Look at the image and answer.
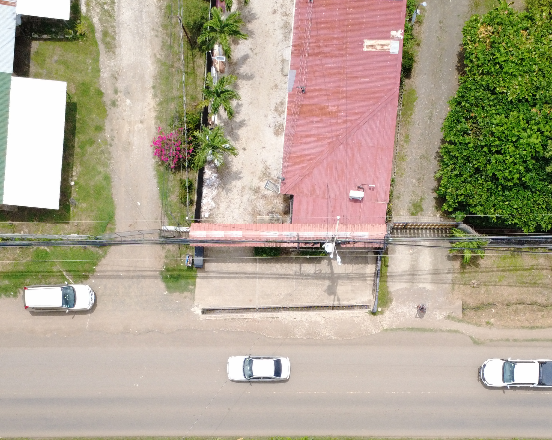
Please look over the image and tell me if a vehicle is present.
Yes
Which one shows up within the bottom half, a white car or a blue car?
white car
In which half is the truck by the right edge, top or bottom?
bottom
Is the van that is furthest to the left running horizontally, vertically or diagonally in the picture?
horizontally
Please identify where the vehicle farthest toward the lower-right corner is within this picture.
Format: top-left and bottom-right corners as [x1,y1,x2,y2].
[478,356,552,391]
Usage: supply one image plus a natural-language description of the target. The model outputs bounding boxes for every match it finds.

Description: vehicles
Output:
[27,281,98,314]
[226,354,291,384]
[478,356,552,391]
